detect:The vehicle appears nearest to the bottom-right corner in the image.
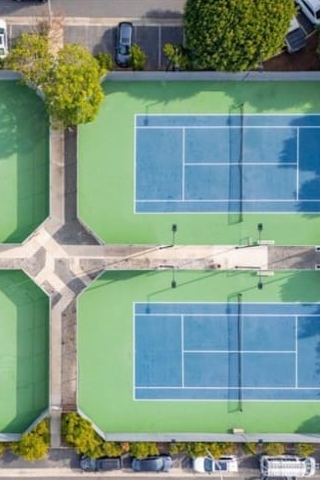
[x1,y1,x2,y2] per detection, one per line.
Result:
[259,456,316,480]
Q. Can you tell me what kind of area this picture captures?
sports ground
